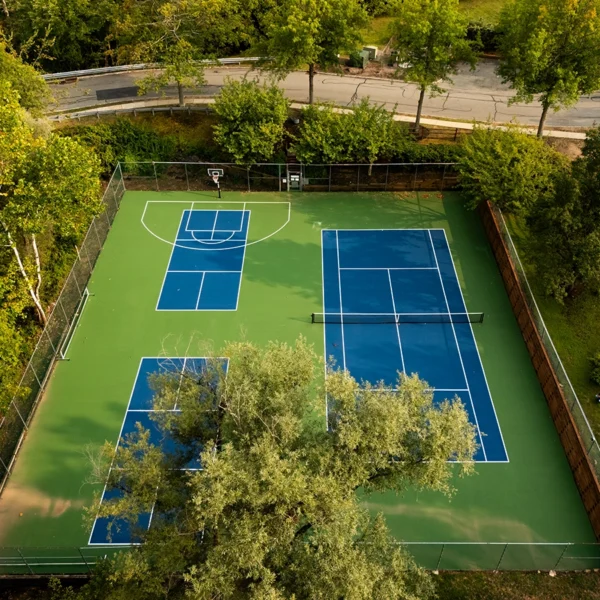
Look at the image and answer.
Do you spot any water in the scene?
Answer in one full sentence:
No, the picture contains no water.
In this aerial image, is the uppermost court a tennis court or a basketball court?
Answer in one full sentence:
The uppermost court is a basketball court.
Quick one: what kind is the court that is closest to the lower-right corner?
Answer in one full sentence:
I'd say the court that is closest to the lower-right corner is a tennis court.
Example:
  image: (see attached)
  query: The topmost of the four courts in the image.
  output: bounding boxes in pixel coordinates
[129,200,291,251]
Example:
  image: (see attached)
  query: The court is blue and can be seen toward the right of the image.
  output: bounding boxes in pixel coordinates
[321,229,510,463]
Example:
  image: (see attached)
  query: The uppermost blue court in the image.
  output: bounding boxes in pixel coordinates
[156,210,250,310]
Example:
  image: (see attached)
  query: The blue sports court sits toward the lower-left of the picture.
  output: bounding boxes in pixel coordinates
[88,357,229,546]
